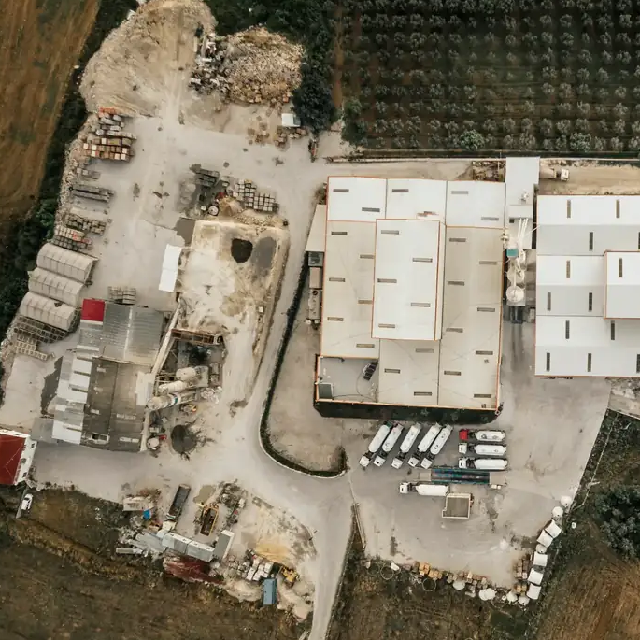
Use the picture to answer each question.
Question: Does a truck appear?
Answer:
Yes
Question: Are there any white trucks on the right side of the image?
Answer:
Yes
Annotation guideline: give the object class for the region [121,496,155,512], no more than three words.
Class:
building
